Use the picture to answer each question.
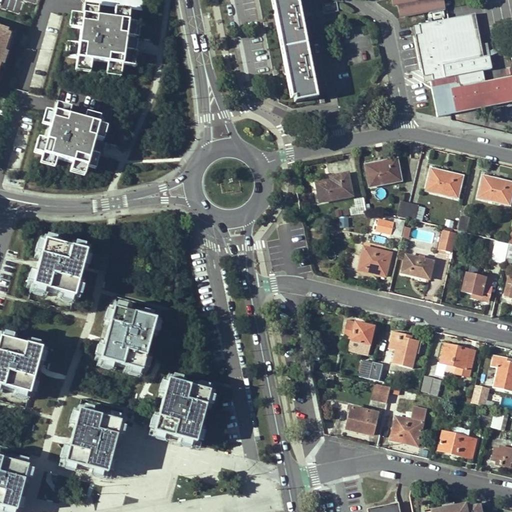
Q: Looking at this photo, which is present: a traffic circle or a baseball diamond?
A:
traffic circle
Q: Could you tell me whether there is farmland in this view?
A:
No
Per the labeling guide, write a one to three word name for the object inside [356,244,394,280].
house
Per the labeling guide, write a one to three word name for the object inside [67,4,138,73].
building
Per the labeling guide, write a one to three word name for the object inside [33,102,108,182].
building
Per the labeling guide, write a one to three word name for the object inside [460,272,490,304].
house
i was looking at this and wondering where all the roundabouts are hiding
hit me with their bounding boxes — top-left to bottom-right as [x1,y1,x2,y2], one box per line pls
[203,158,254,209]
